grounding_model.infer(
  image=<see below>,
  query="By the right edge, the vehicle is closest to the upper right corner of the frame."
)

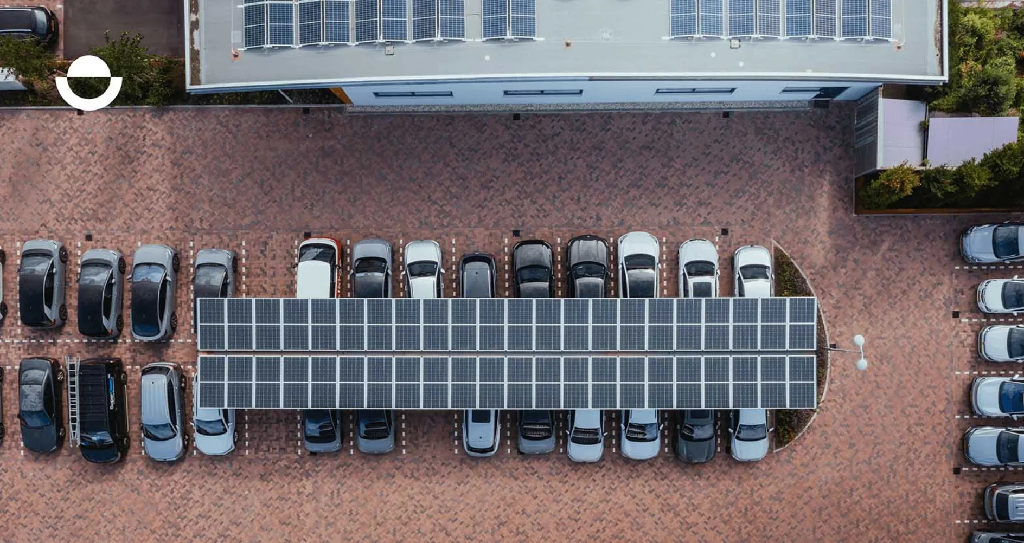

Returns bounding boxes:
[958,219,1024,265]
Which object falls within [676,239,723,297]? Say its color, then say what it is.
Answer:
white car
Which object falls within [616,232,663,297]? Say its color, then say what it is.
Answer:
white car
